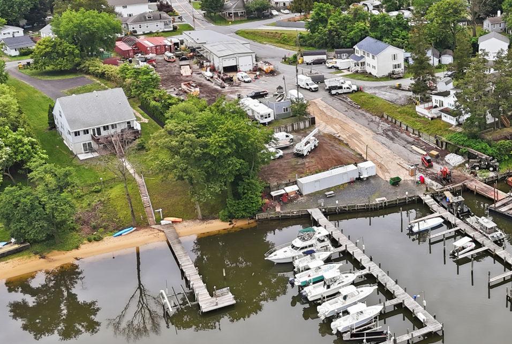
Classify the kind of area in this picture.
port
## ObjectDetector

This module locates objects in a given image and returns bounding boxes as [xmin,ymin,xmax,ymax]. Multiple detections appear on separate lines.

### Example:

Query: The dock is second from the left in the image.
[312,204,446,344]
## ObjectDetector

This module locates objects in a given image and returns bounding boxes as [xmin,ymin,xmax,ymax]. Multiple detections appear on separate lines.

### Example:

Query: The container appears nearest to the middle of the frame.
[296,161,358,196]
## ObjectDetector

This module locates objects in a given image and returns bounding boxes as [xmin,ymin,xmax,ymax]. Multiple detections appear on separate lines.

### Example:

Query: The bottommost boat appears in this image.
[343,328,397,344]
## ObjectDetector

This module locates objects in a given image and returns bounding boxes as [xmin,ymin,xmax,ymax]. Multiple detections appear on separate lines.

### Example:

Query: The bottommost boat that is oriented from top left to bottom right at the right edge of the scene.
[467,216,508,245]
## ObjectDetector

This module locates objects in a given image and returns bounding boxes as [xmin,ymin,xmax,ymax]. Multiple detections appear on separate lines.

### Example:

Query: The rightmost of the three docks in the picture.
[406,191,512,301]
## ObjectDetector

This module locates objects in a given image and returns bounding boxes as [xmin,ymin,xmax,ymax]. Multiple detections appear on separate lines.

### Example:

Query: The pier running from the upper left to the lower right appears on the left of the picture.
[157,222,237,317]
